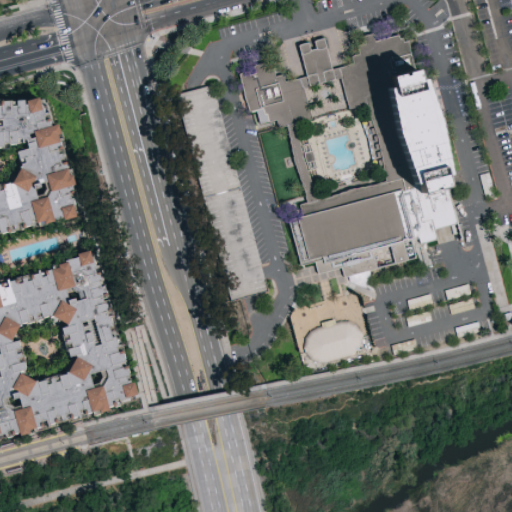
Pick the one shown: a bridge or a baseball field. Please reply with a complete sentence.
I can see a bridge in this picture.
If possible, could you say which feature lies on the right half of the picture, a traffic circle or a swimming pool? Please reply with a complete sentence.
Looking on the right half of the picture, you will find a swimming pool.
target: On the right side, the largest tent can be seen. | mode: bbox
[304,320,364,362]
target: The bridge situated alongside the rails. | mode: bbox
[137,384,272,432]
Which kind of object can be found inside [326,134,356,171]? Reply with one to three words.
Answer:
swimming pool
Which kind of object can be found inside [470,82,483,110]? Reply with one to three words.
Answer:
vehicle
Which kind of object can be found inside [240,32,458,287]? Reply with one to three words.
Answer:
building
